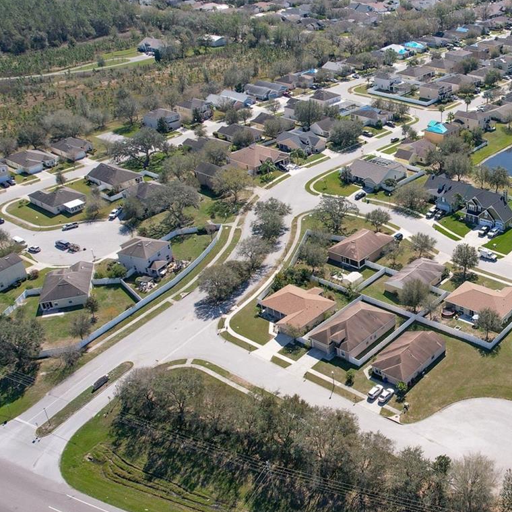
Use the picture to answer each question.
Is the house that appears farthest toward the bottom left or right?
right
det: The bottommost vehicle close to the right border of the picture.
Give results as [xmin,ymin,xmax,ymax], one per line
[479,245,497,258]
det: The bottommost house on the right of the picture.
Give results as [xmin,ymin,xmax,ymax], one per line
[370,332,448,389]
